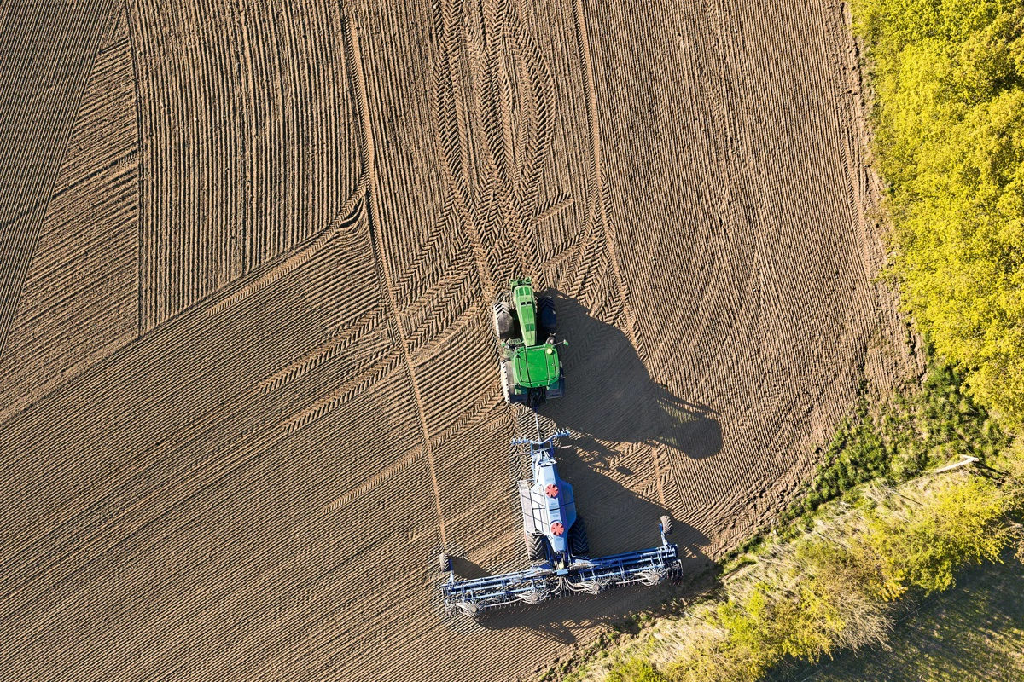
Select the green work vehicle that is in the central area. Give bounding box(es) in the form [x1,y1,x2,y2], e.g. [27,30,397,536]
[493,276,568,410]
